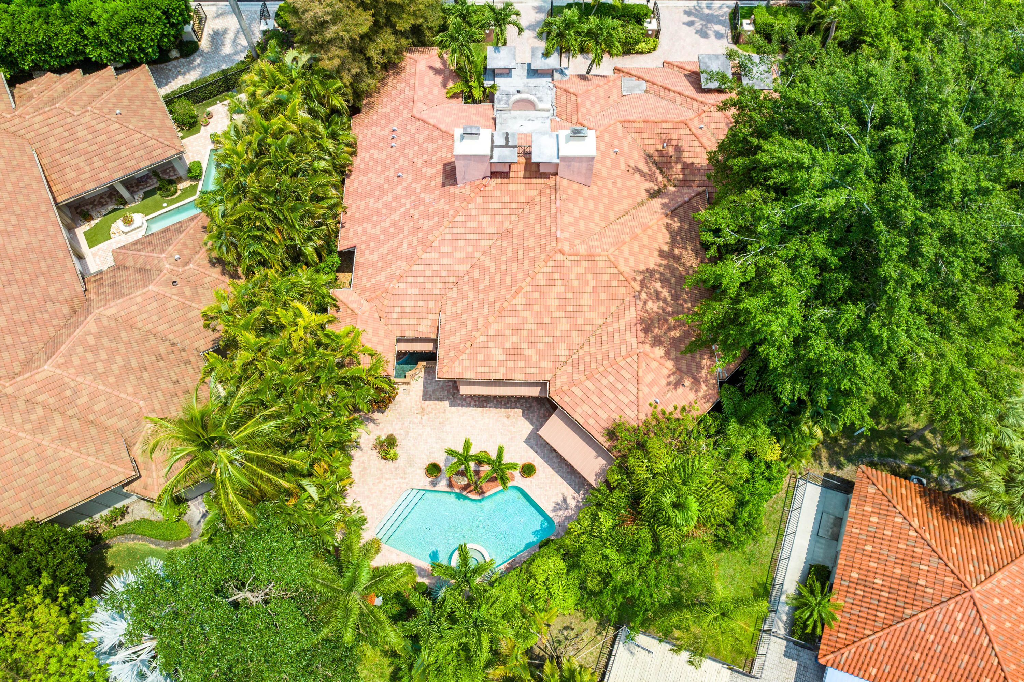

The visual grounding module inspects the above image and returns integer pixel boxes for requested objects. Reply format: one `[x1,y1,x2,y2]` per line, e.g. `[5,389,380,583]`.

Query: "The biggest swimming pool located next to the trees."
[373,481,561,588]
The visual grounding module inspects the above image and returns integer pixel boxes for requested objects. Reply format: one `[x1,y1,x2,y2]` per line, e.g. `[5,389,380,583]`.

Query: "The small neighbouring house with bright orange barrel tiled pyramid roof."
[816,465,1024,682]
